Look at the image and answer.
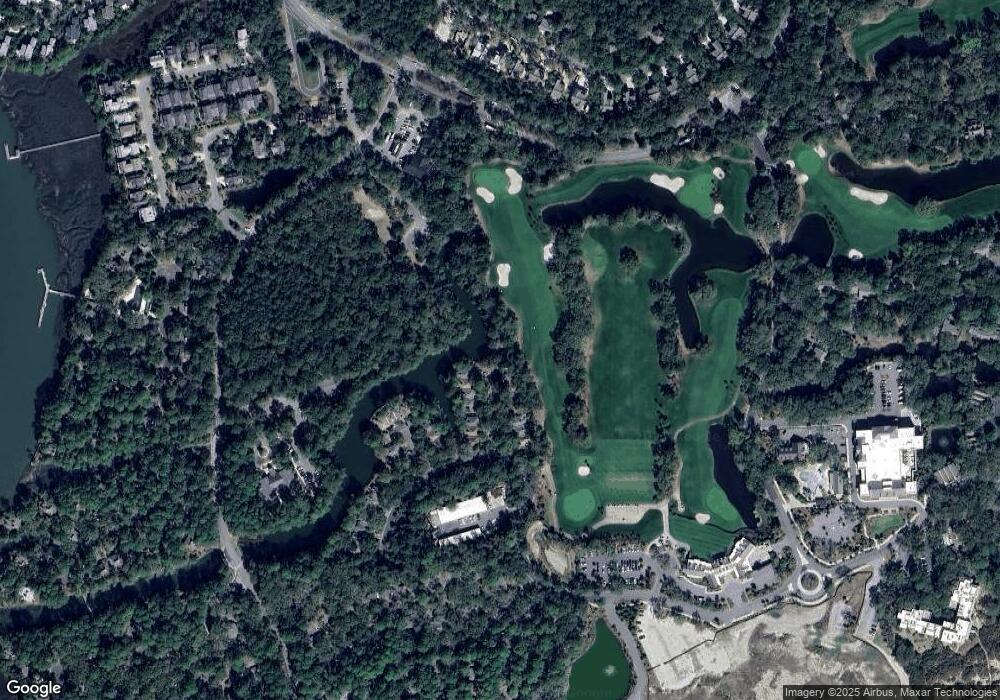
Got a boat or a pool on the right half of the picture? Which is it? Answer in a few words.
pool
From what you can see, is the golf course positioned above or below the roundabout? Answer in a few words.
above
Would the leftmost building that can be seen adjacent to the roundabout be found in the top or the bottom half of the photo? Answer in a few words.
bottom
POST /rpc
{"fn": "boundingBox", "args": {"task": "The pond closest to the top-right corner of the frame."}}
[875,36,958,78]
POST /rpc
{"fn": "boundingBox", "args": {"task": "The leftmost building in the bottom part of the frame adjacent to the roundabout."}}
[683,537,771,585]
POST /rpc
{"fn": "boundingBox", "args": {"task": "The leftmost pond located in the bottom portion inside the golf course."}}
[708,424,757,527]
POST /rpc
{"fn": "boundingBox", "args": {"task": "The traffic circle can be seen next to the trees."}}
[788,550,832,602]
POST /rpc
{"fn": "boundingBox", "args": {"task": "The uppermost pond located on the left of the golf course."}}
[229,165,305,212]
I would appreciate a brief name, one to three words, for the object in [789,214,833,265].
pond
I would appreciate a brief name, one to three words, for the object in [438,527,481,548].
building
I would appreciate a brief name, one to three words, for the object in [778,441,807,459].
house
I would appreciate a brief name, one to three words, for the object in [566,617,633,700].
pond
